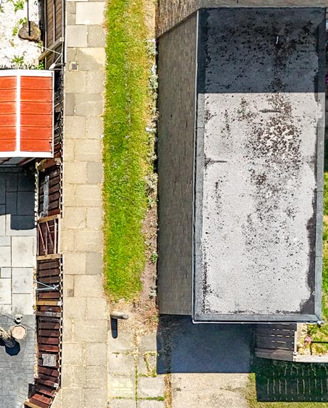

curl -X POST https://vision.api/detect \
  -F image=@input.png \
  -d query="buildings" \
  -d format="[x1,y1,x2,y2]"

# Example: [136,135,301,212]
[0,67,54,165]
[158,8,327,327]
